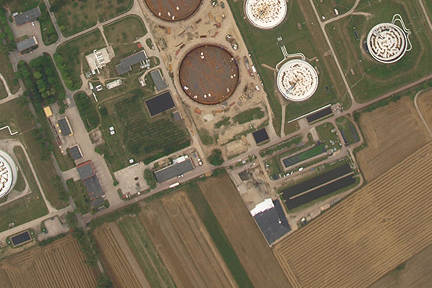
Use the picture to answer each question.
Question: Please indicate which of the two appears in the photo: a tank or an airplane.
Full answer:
I can see a tank in this picture.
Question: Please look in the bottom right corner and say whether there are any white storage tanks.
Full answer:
No, no white storage tank appears in the bottom right corner.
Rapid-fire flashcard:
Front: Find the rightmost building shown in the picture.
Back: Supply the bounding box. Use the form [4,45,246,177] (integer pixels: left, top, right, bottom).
[250,198,291,246]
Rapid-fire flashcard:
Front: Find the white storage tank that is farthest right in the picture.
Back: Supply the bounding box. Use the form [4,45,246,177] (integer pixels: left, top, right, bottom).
[365,21,407,63]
